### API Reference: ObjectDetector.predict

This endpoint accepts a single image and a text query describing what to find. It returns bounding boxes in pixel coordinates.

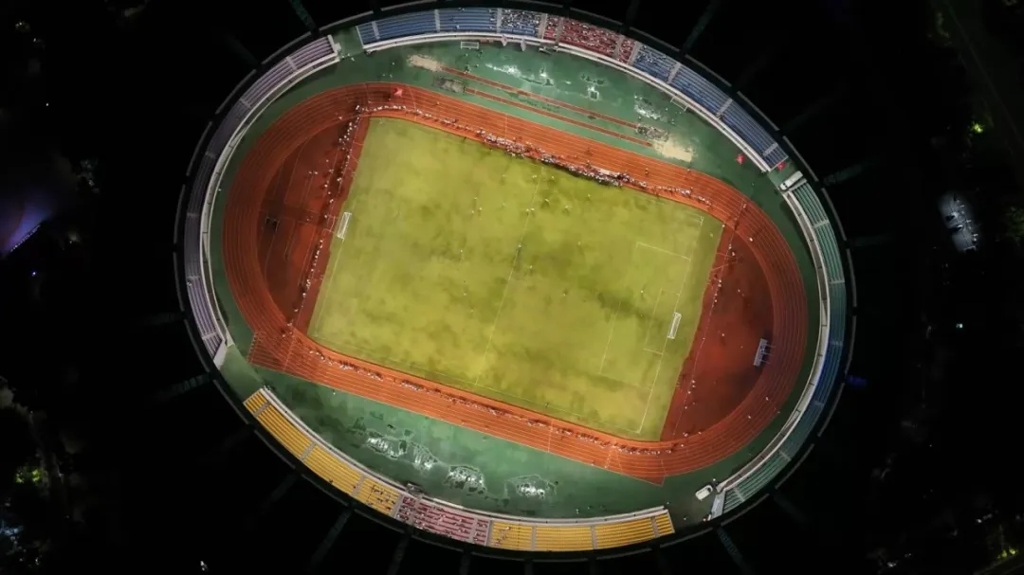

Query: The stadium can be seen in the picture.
[134,0,896,575]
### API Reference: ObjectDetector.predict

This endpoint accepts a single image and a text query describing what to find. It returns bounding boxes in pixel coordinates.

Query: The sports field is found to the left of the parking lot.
[309,116,724,443]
